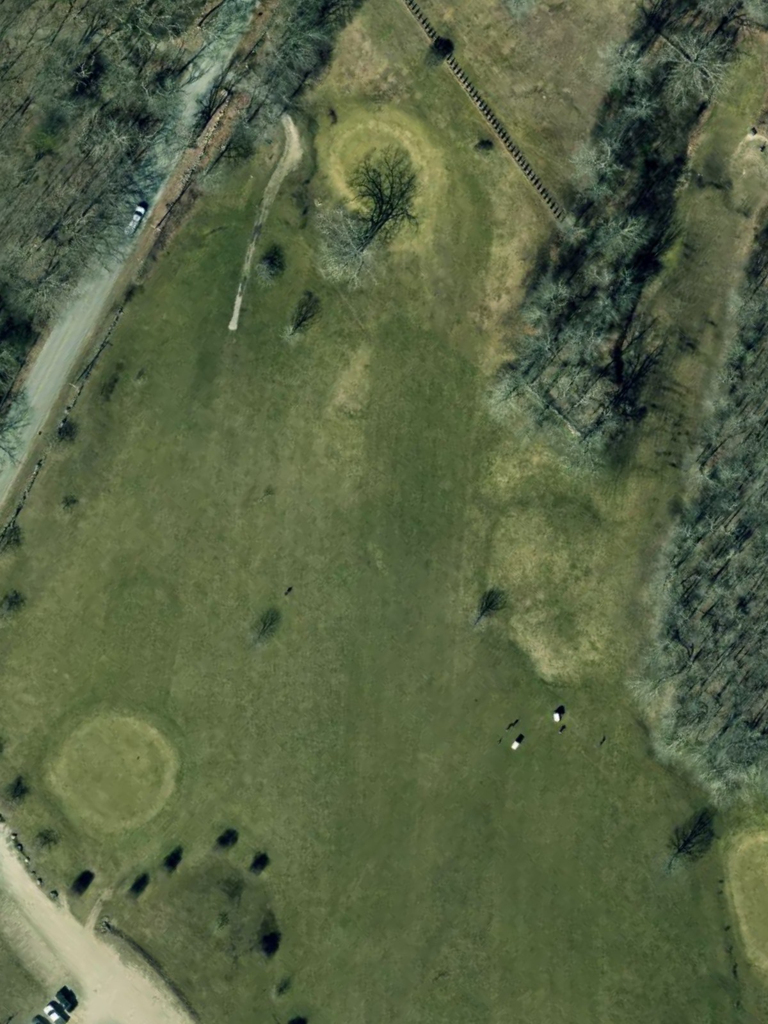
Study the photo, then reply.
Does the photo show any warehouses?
No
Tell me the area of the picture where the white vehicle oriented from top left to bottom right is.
bottom left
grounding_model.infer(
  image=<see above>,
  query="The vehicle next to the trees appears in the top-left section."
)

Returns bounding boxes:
[124,204,146,235]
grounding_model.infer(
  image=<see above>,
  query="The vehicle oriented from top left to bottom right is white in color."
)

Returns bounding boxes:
[40,1004,64,1024]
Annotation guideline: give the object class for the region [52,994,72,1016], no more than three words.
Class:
car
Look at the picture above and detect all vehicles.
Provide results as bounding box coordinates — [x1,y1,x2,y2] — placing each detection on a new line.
[52,994,72,1016]
[510,740,520,752]
[553,712,561,724]
[124,204,146,235]
[40,1004,64,1024]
